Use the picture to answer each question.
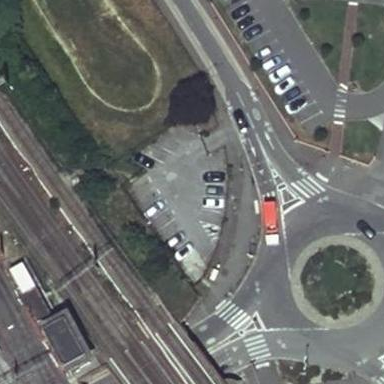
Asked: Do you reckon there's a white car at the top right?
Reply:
Yes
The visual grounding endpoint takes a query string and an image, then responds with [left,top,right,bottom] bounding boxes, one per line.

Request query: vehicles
[264,197,280,244]
[268,64,291,83]
[144,200,164,218]
[282,85,303,102]
[256,45,274,60]
[274,77,294,94]
[166,231,186,248]
[236,14,256,30]
[242,23,264,41]
[262,54,282,72]
[357,220,376,239]
[286,96,306,112]
[174,242,194,260]
[230,2,252,20]
[202,172,226,182]
[133,152,156,169]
